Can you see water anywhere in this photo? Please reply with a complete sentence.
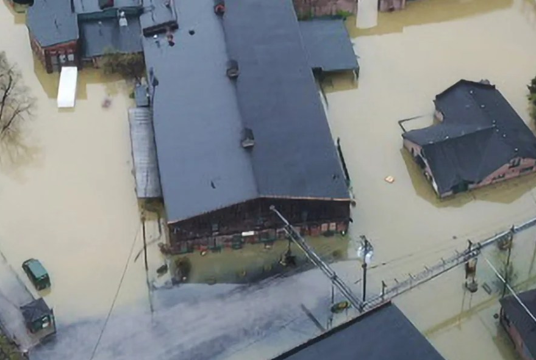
Yes, water shows up in the scene.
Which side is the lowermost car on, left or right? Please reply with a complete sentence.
The lowermost car appears in the left half of the scene.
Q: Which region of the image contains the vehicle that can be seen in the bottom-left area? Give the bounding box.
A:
[23,262,50,295]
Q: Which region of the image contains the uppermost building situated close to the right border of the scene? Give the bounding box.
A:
[398,85,536,205]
